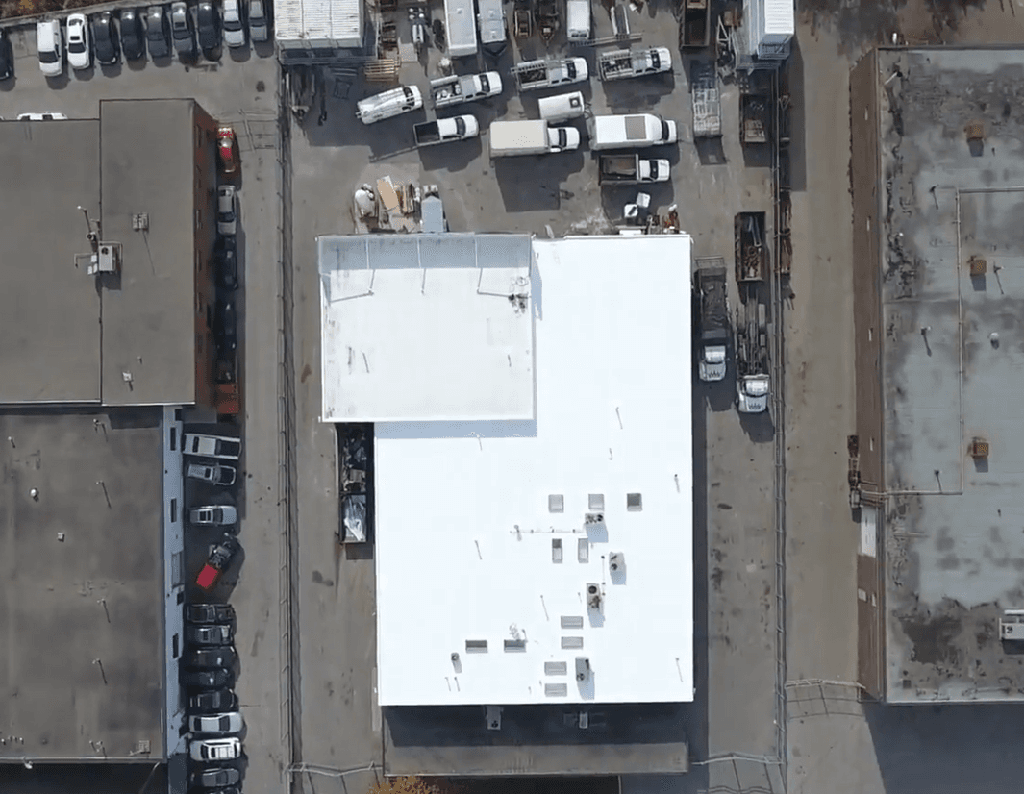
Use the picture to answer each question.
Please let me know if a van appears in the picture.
Yes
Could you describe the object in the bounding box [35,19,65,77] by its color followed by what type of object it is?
white van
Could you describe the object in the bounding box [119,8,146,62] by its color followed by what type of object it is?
black car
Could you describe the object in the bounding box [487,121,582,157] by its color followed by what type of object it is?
white truck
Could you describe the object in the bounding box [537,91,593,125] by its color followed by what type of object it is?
white trailer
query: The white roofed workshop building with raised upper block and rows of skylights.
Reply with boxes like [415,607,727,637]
[313,231,698,776]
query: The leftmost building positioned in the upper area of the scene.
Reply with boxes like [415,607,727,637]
[0,99,218,405]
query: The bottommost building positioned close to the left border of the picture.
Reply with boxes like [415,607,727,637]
[0,407,185,762]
